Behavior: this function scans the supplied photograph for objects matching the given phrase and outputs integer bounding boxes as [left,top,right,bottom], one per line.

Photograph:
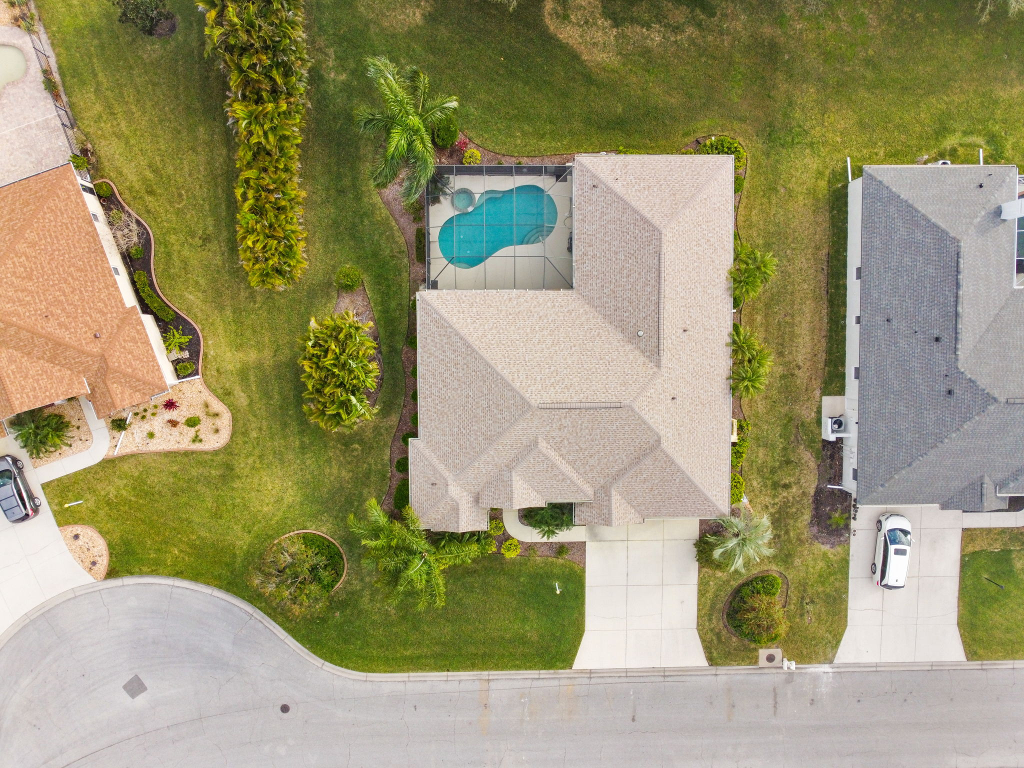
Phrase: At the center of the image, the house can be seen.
[408,153,735,532]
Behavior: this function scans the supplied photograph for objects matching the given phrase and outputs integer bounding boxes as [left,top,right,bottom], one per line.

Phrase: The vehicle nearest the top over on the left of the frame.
[0,452,39,528]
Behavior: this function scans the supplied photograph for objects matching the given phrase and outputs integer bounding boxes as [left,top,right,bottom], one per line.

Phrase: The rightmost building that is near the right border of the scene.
[843,164,1024,511]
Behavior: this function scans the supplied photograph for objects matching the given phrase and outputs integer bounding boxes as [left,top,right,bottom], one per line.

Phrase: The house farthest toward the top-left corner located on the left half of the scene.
[0,162,178,440]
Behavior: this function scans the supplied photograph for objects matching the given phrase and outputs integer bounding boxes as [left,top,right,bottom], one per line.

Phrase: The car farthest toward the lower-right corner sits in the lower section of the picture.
[871,511,915,588]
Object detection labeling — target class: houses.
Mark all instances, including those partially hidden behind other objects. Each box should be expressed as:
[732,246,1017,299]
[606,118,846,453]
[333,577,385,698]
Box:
[0,162,178,440]
[408,153,735,532]
[843,164,1024,511]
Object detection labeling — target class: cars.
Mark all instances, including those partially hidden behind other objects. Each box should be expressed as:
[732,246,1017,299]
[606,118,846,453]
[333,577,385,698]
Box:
[0,452,39,528]
[871,511,915,588]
